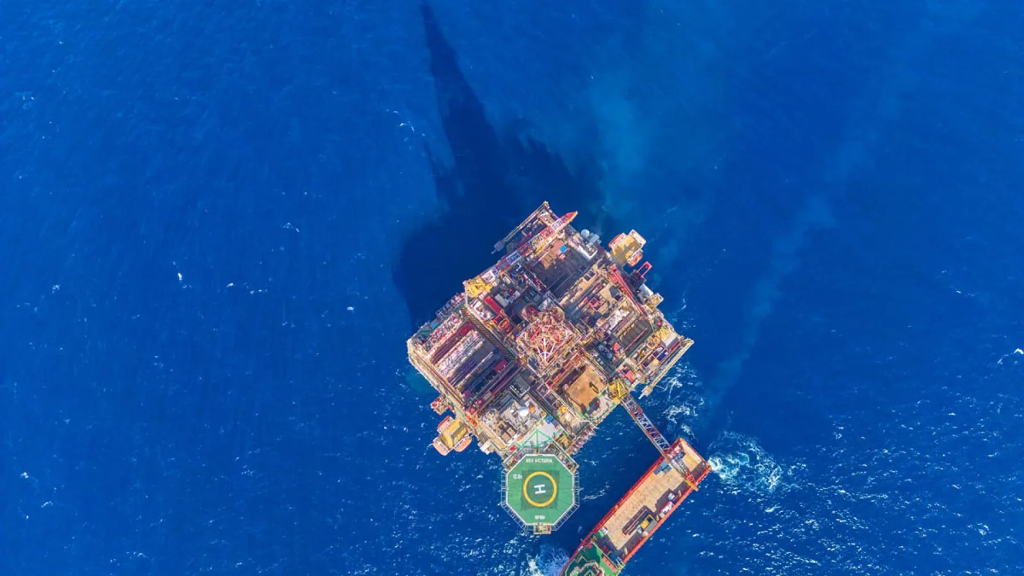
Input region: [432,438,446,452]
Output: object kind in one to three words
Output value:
boat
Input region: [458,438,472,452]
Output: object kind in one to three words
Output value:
boat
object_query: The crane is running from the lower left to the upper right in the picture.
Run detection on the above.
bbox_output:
[463,209,581,301]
